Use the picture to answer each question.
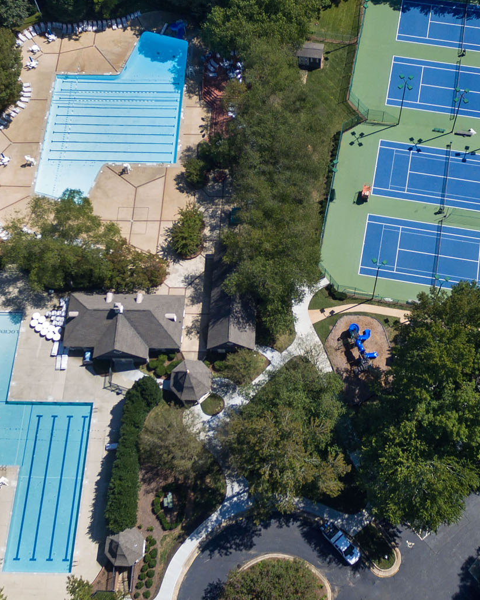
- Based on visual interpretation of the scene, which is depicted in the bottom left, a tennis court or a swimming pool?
swimming pool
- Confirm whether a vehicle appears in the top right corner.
No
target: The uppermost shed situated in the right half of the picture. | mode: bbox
[297,45,326,69]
